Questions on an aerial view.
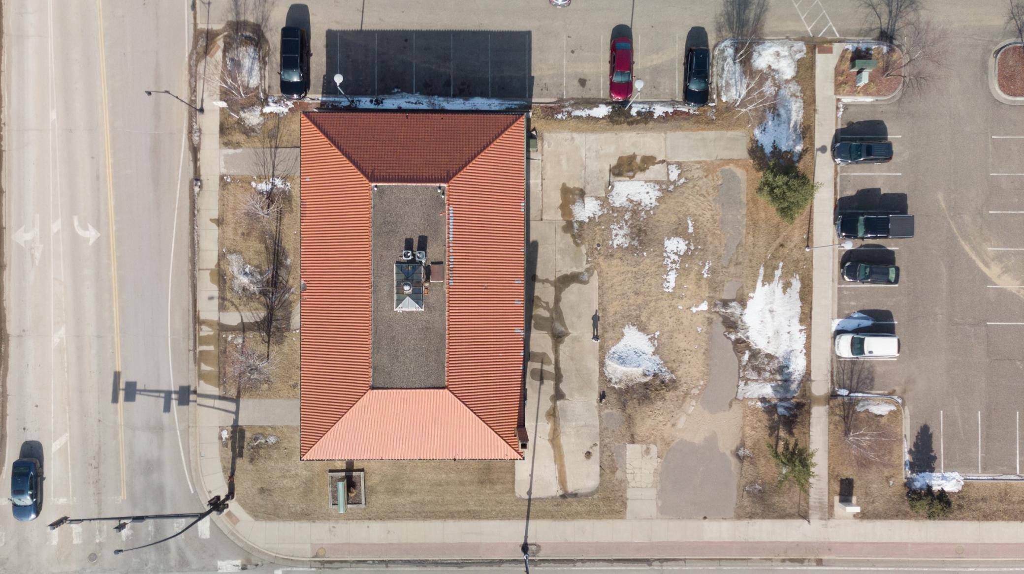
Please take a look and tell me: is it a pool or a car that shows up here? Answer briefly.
car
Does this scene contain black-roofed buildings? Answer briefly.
No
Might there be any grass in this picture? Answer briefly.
Yes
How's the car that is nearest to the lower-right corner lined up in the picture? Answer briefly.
horizontally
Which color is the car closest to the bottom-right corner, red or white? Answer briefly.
white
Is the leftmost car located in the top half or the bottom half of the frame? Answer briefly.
bottom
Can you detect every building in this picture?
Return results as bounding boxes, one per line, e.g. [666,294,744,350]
[298,110,528,463]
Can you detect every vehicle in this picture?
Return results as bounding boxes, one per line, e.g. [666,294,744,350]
[275,30,309,102]
[829,135,892,166]
[832,331,899,362]
[839,259,899,289]
[832,210,913,243]
[682,45,713,107]
[7,456,42,521]
[606,37,636,103]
